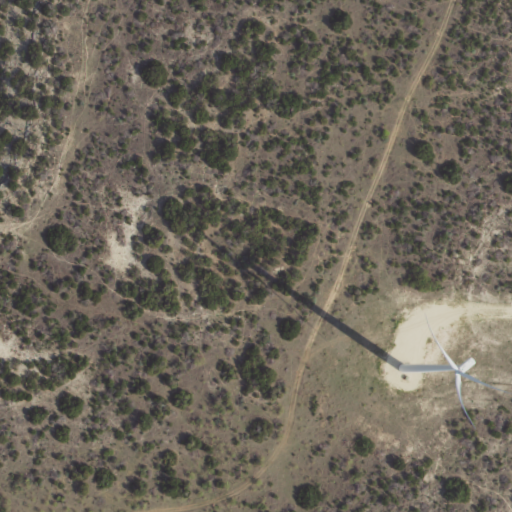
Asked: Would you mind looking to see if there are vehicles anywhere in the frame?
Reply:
No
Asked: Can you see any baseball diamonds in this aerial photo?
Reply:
No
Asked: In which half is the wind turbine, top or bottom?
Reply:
bottom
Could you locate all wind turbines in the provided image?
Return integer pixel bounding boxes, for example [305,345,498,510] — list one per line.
[396,312,512,429]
